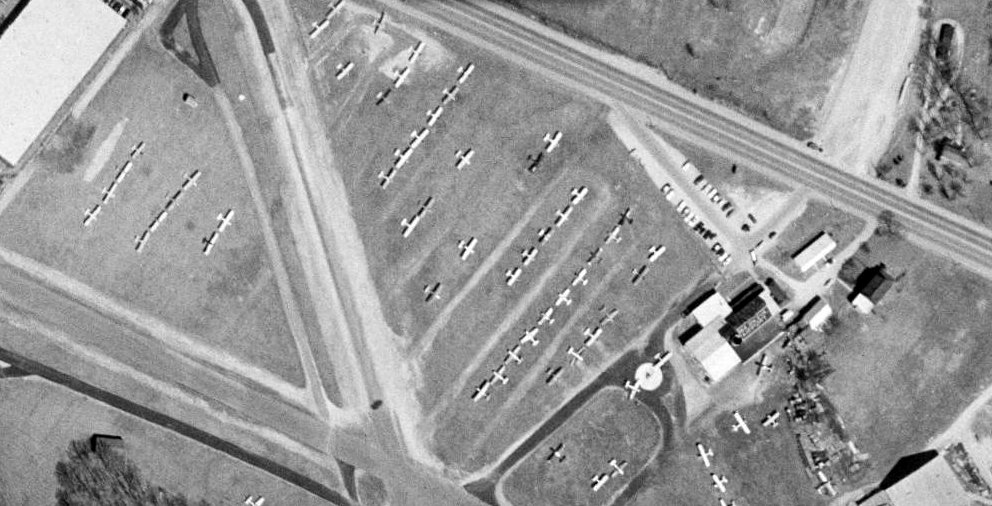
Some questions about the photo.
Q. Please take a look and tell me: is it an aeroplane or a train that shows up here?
aeroplane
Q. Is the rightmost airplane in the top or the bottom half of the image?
bottom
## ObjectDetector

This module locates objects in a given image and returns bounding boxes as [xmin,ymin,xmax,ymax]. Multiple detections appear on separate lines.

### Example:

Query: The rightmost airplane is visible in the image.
[815,473,837,496]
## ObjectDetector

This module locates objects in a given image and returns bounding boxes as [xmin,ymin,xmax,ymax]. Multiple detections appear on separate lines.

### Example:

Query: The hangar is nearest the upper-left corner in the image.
[0,0,126,166]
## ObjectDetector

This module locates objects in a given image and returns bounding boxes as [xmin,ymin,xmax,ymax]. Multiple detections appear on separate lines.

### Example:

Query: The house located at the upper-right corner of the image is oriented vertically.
[938,25,953,58]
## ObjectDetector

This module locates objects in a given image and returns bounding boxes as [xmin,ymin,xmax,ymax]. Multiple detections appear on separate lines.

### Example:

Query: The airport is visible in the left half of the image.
[0,0,677,506]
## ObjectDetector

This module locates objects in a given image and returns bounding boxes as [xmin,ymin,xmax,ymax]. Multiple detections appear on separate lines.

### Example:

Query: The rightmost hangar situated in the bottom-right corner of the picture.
[887,456,972,506]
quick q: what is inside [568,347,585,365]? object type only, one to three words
airplane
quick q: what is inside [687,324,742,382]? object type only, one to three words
hangar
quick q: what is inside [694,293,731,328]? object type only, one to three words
building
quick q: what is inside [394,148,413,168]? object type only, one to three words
airplane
